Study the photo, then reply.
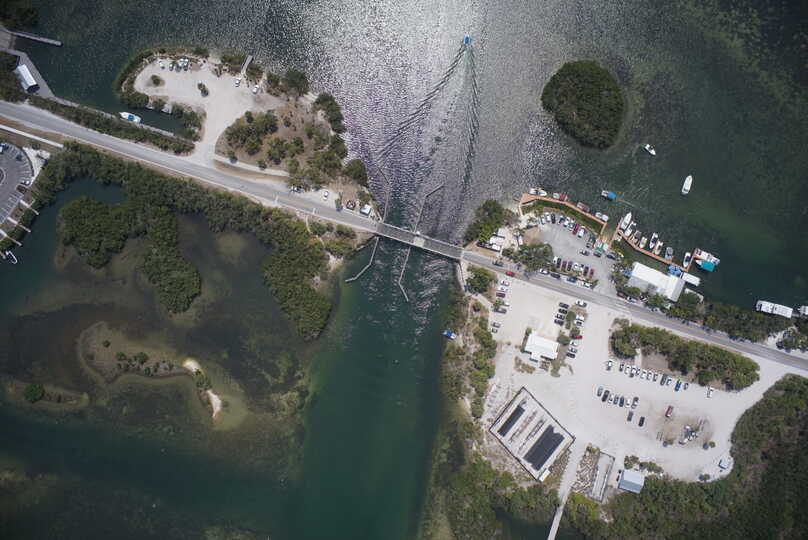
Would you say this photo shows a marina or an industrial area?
marina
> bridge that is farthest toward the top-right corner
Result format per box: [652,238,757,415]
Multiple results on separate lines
[375,221,464,261]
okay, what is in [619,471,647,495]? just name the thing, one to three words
shed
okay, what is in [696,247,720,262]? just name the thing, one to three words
boat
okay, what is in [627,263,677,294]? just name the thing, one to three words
building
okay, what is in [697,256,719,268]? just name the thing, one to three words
boat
